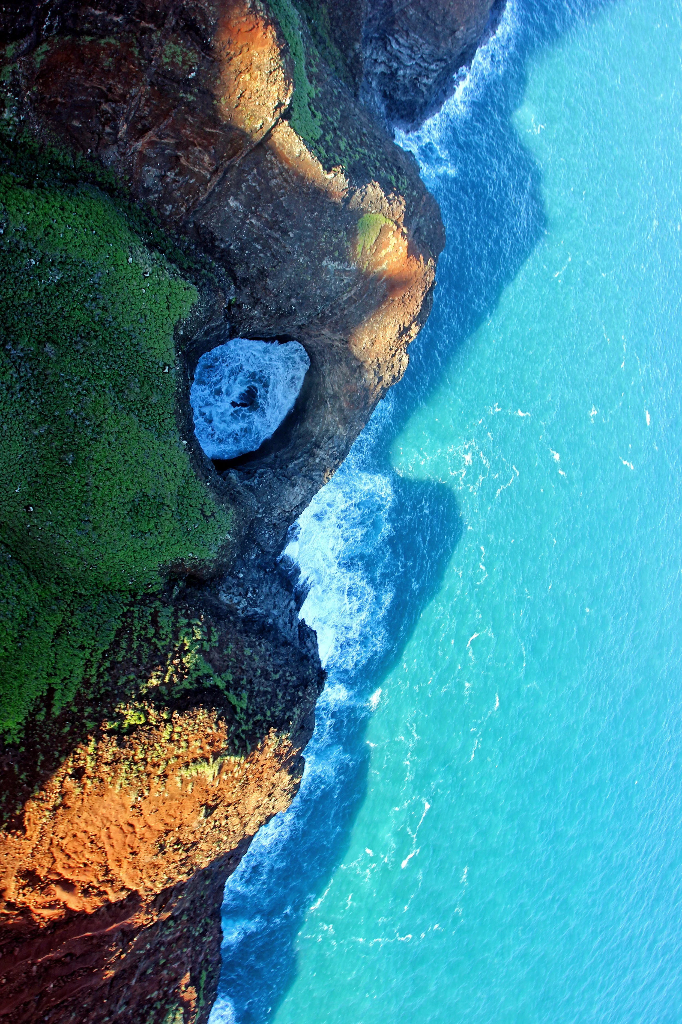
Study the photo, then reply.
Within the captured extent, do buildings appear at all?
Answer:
No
